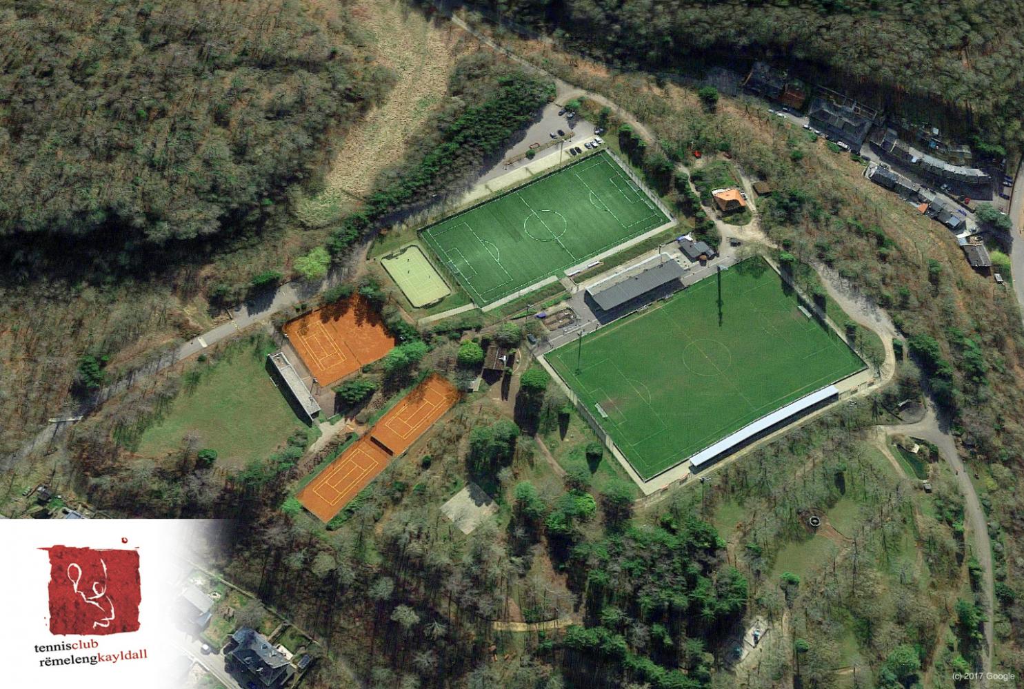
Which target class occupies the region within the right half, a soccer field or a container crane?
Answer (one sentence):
It is a soccer field that can be seen within the right half.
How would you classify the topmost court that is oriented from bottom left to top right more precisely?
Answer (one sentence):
I'd identify the topmost court that is oriented from bottom left to top right as a tennis court.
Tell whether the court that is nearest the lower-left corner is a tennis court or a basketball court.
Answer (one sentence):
From above, the court that is nearest the lower-left corner can be identified as a tennis court.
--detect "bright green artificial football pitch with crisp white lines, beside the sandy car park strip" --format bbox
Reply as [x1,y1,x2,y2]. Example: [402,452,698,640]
[419,150,671,308]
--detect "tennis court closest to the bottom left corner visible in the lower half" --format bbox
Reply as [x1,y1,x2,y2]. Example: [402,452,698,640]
[297,435,393,523]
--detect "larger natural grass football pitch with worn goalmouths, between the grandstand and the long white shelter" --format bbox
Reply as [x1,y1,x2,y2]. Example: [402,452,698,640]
[545,256,867,480]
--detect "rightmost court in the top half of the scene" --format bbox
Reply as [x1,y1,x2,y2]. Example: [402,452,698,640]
[381,244,451,307]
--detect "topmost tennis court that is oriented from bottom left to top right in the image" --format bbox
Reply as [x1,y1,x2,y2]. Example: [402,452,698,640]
[372,373,460,458]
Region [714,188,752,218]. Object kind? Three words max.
house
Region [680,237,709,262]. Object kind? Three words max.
building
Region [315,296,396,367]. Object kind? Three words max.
tennis court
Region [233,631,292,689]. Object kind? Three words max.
house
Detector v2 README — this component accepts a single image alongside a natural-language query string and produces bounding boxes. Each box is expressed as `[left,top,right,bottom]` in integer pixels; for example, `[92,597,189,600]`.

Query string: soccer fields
[545,256,867,480]
[419,150,671,308]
